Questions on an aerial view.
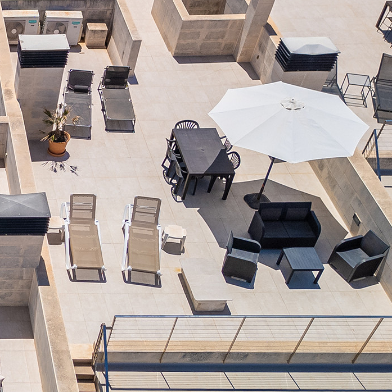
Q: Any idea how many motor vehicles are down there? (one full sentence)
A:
There are no motor vehicles in this view.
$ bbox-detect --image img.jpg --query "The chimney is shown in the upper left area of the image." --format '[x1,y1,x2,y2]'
[16,30,70,136]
